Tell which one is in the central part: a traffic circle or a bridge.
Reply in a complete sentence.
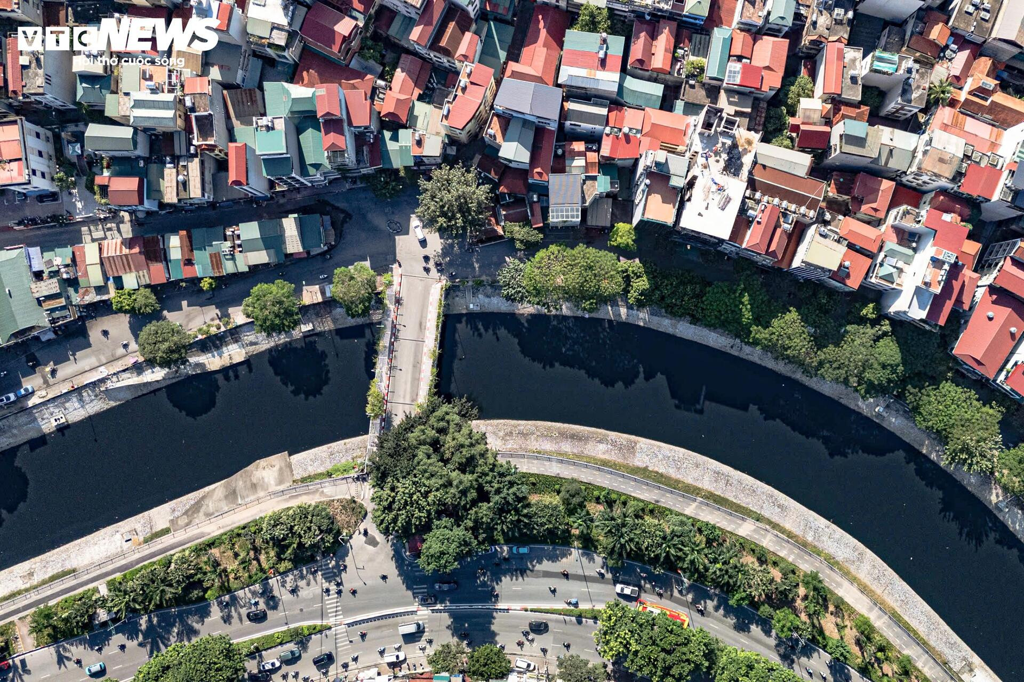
It is a bridge that can be seen in the central part.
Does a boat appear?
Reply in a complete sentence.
No, the photo shows no boat.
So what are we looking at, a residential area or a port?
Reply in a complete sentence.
This image shows a residential area.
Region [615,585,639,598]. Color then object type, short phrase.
white vehicle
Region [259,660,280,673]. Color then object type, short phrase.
white vehicle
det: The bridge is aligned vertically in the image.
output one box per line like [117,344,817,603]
[366,272,445,476]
